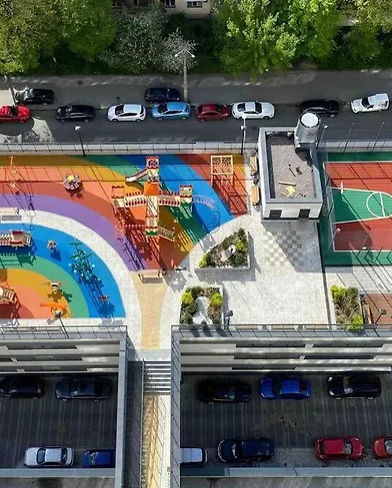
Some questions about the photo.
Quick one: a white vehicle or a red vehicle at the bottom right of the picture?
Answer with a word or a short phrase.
red vehicle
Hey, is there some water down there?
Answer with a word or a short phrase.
No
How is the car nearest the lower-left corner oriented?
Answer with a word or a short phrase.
from side to side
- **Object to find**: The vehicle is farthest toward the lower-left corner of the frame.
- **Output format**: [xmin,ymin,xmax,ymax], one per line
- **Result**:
[22,445,75,470]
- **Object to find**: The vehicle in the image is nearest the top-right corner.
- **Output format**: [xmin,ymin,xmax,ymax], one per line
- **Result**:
[349,90,392,116]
